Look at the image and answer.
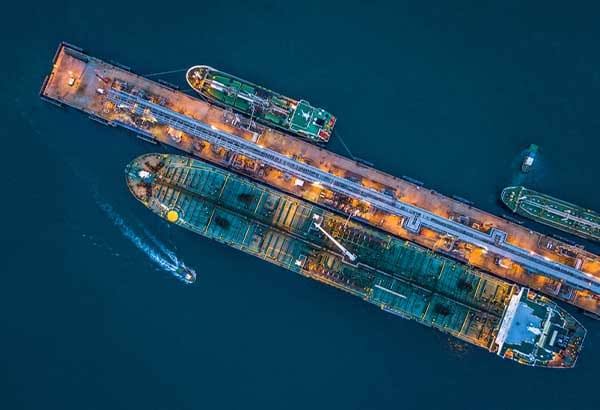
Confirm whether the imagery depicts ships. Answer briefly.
Yes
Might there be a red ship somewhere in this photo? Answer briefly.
No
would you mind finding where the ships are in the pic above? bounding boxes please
[499,186,600,240]
[185,64,338,143]
[122,152,587,367]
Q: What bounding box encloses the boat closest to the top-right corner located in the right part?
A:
[521,145,537,171]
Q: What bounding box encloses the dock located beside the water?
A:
[42,45,600,316]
